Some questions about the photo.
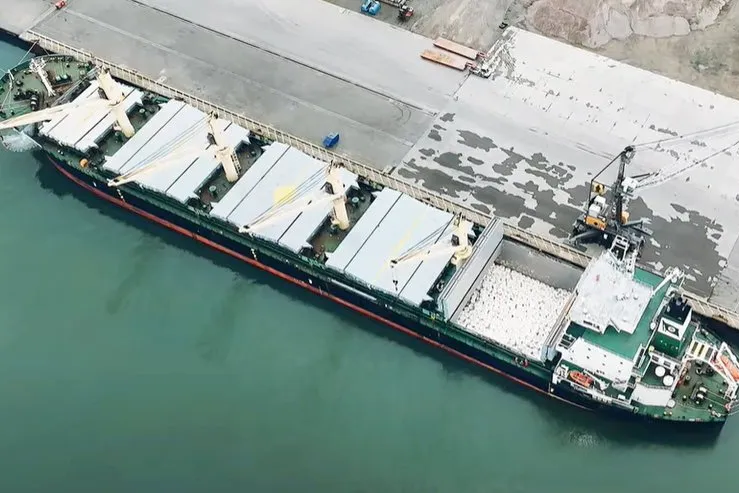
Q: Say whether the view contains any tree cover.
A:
No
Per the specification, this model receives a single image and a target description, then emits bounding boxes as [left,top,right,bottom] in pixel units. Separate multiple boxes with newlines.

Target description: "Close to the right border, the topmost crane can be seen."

[560,117,739,268]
